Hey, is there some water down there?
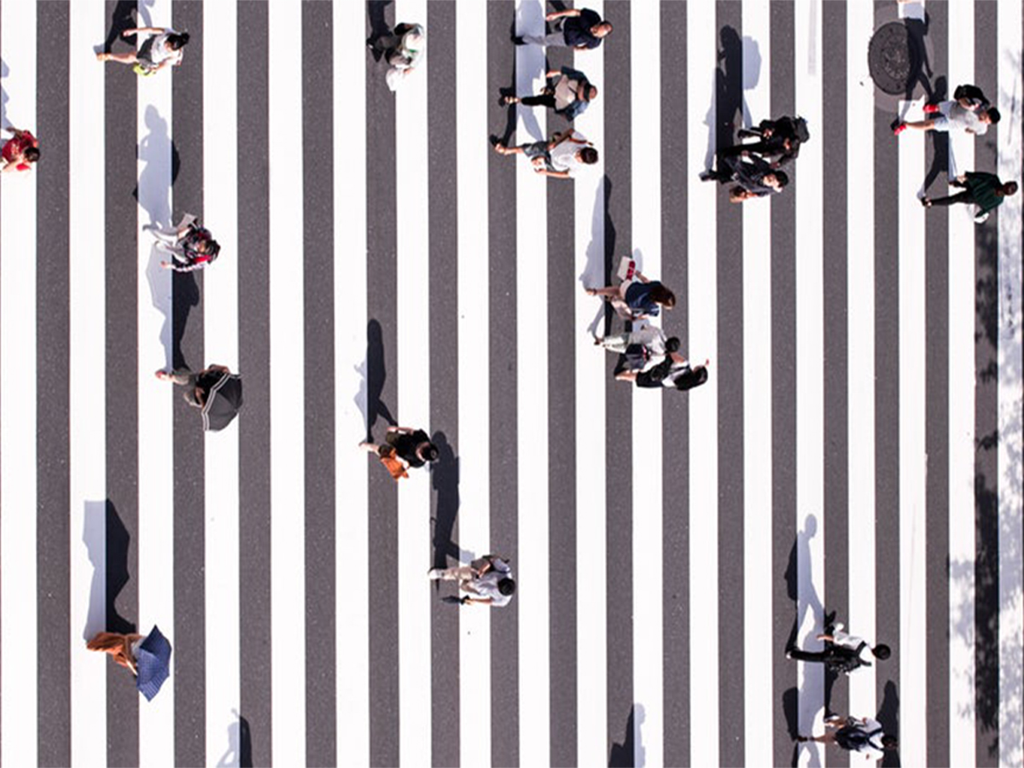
No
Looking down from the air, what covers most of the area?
paved ground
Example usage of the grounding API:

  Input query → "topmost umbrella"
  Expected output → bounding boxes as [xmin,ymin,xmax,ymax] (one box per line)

[206,369,247,436]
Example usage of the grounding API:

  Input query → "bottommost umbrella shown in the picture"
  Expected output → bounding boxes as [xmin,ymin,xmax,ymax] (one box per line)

[109,625,176,701]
